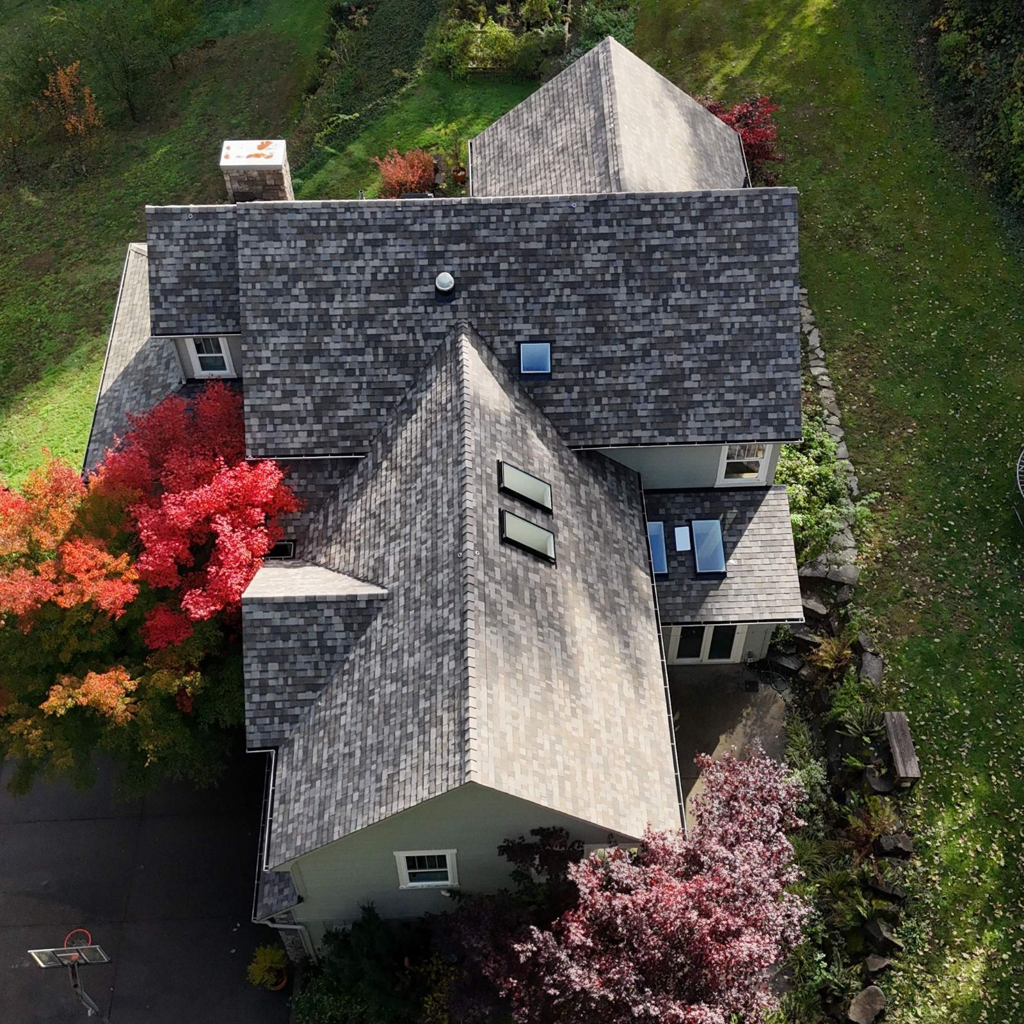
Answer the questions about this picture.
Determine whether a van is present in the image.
No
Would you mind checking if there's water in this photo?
No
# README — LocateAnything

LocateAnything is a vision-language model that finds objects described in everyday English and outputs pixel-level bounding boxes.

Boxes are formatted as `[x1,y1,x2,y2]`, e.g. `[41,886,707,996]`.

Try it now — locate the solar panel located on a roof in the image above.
[674,524,691,550]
